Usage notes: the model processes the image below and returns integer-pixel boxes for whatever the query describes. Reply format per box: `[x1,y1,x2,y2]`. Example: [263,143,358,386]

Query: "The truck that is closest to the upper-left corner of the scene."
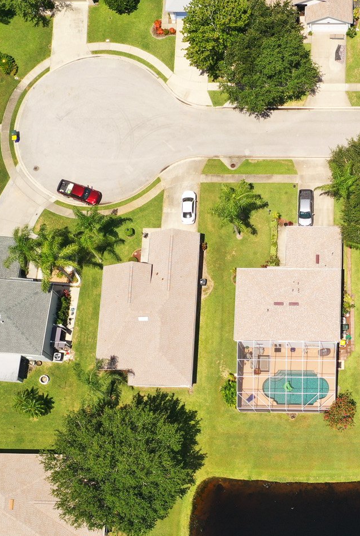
[53,176,101,204]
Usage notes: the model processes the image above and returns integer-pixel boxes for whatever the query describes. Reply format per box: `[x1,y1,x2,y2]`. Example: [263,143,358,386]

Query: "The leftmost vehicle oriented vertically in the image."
[179,188,195,223]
